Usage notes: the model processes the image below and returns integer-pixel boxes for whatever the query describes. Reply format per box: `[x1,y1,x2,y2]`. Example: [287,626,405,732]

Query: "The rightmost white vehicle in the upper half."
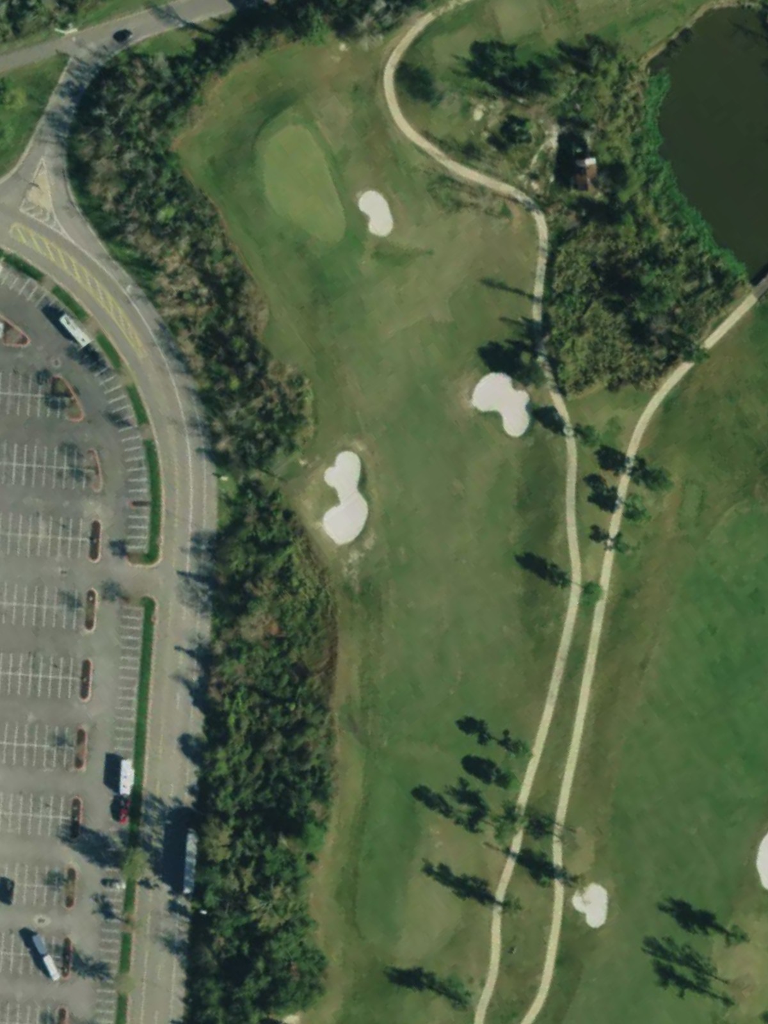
[59,314,91,347]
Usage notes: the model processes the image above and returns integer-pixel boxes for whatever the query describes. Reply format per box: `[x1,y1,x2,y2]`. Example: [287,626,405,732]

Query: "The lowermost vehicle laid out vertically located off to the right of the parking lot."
[183,829,198,892]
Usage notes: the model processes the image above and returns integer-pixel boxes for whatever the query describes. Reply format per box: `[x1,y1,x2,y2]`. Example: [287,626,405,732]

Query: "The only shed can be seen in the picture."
[573,159,597,198]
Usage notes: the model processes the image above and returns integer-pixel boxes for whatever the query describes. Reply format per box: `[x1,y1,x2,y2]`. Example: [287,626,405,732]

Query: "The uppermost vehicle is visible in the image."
[113,29,132,42]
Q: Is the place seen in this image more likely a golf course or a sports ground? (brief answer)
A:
golf course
